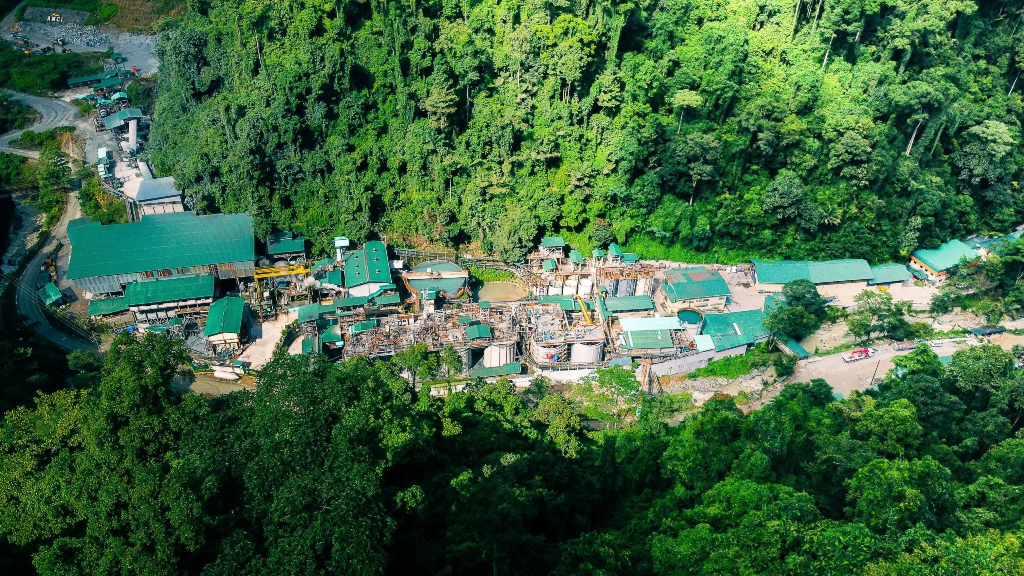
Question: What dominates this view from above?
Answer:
trees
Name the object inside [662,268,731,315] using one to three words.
building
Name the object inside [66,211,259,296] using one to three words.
building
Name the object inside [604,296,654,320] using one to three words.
shed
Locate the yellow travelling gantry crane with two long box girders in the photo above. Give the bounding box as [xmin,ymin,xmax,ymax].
[254,260,317,299]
